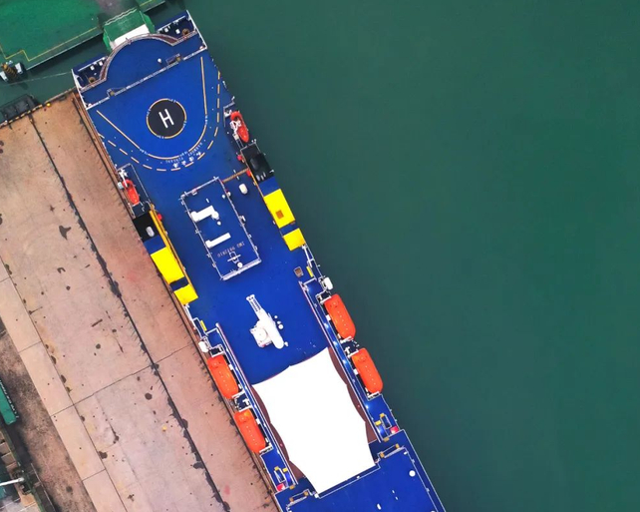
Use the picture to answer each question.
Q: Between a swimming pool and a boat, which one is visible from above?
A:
boat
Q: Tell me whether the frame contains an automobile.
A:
No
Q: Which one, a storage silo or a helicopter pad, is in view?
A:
helicopter pad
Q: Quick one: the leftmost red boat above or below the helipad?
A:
below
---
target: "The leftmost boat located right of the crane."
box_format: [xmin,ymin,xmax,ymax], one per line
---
[323,292,357,339]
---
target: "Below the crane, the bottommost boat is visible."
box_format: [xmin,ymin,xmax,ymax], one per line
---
[232,406,267,454]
